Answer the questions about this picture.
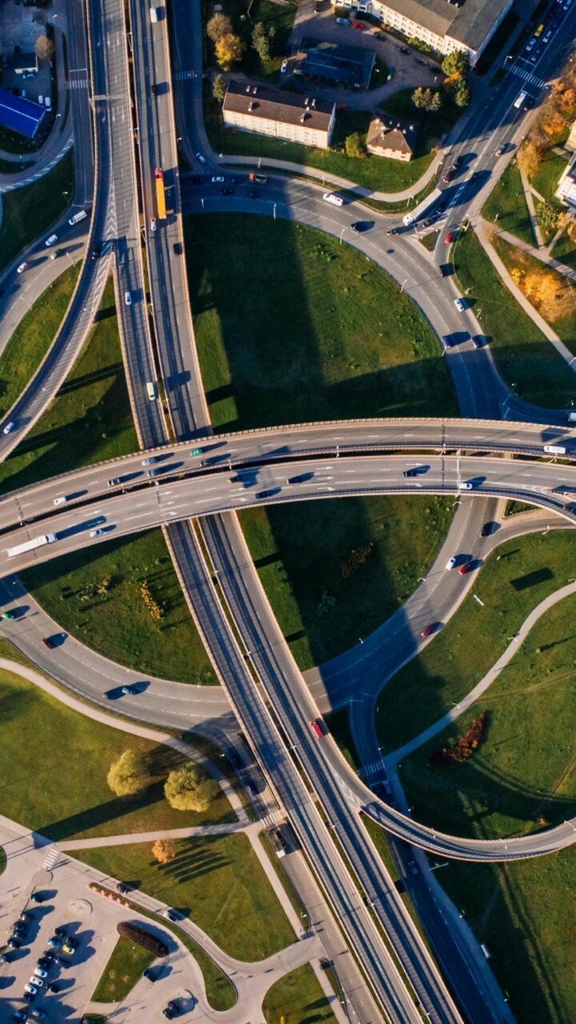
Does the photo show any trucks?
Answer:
Yes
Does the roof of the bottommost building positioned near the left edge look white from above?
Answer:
No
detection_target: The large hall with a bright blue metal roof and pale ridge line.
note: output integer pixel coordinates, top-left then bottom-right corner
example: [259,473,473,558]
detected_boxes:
[0,80,43,137]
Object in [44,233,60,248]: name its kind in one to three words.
vehicle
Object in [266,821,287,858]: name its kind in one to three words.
truck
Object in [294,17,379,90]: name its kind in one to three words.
building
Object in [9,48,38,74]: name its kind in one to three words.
shed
